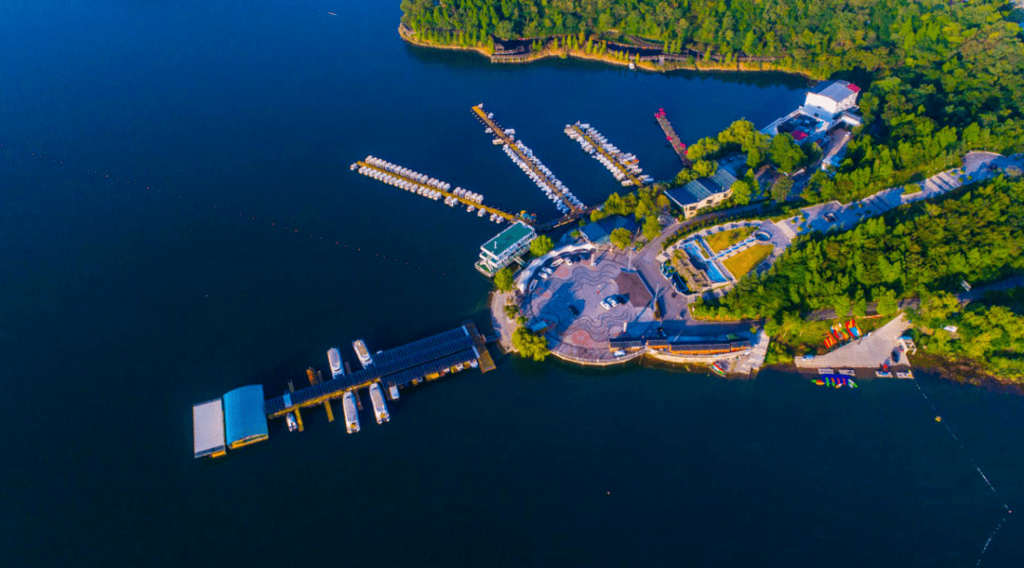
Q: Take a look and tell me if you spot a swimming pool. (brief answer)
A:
Yes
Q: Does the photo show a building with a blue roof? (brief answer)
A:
Yes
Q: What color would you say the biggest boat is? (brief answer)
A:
blue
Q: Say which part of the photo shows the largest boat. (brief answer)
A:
center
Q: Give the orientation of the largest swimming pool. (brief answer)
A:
diagonally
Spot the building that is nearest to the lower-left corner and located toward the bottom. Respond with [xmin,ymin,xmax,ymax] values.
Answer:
[193,395,231,468]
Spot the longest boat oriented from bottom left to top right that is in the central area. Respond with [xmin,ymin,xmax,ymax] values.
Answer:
[469,218,536,274]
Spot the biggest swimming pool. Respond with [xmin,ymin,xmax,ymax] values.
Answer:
[683,239,730,285]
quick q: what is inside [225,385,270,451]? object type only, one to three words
building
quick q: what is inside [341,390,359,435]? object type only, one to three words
boat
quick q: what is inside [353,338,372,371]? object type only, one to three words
boat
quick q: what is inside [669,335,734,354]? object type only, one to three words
shed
